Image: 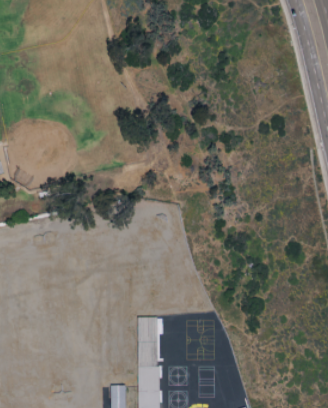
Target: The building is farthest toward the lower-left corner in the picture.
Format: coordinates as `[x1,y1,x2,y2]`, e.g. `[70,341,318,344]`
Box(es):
[111,386,126,408]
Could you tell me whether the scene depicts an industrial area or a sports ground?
sports ground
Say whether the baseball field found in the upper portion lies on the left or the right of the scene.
left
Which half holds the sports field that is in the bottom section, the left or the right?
left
